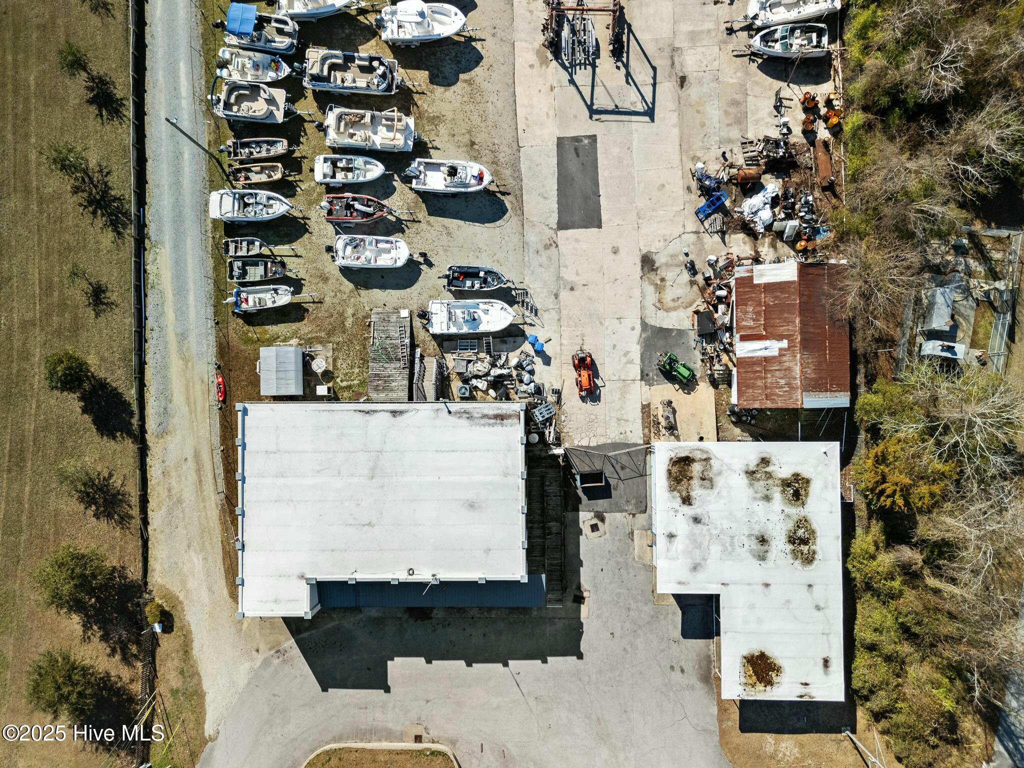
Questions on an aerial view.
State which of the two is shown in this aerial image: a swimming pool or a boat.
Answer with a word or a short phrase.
boat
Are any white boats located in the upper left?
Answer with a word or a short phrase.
Yes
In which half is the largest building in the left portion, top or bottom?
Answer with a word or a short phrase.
bottom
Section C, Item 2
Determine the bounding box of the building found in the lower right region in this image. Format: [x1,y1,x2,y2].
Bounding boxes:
[650,442,854,700]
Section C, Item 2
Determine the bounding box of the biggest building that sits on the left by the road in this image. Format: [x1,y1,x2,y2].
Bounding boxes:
[235,401,545,619]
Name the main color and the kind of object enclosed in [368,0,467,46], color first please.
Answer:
white boat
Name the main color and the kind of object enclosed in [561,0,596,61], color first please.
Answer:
gray trailer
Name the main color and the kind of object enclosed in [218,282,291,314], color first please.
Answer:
white boat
